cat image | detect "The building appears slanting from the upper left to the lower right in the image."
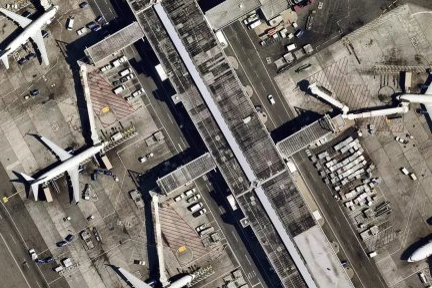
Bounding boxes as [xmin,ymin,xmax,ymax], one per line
[126,0,356,288]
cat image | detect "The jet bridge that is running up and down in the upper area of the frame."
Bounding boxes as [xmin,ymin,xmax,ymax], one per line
[78,63,100,146]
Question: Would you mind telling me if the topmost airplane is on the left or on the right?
left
